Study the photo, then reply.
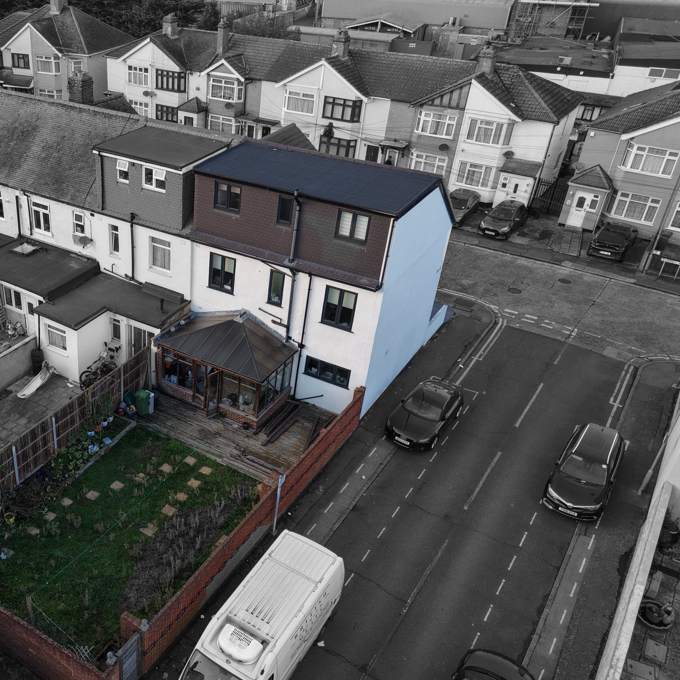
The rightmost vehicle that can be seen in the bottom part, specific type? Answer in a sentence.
I'd identify the rightmost vehicle that can be seen in the bottom part as an automobile.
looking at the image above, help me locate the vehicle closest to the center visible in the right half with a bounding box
[382,375,467,455]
